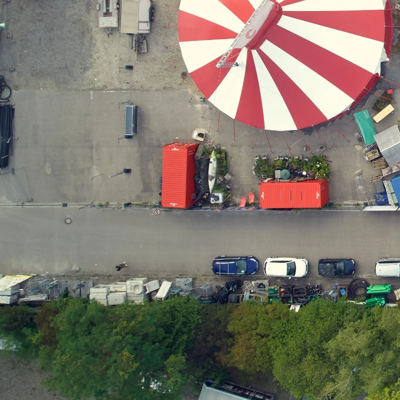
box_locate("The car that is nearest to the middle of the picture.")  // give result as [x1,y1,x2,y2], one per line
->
[213,255,260,278]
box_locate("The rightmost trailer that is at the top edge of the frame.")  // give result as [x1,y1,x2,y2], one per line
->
[122,0,162,43]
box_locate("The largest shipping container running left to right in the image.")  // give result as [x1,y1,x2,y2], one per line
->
[259,179,327,208]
